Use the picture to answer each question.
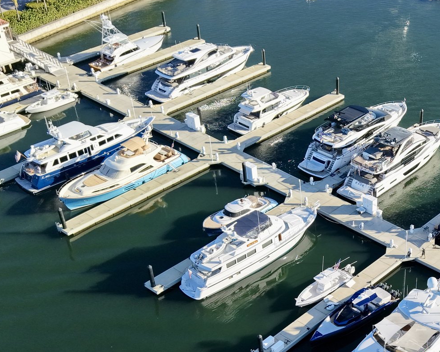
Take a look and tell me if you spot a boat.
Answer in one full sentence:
Yes, the frame does contain a boat.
